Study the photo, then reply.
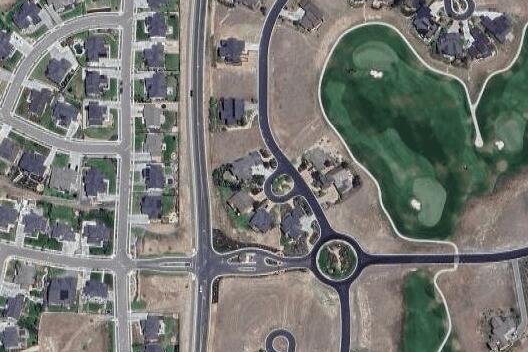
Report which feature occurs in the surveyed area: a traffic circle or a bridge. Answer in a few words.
traffic circle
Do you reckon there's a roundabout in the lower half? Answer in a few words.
Yes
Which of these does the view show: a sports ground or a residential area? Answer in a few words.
residential area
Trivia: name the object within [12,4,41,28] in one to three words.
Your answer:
house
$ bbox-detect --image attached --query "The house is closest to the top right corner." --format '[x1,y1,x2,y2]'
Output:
[479,17,513,42]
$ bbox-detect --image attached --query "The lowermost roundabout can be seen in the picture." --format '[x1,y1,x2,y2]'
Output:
[308,232,366,289]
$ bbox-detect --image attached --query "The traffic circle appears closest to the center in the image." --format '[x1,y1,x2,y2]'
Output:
[264,168,300,202]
